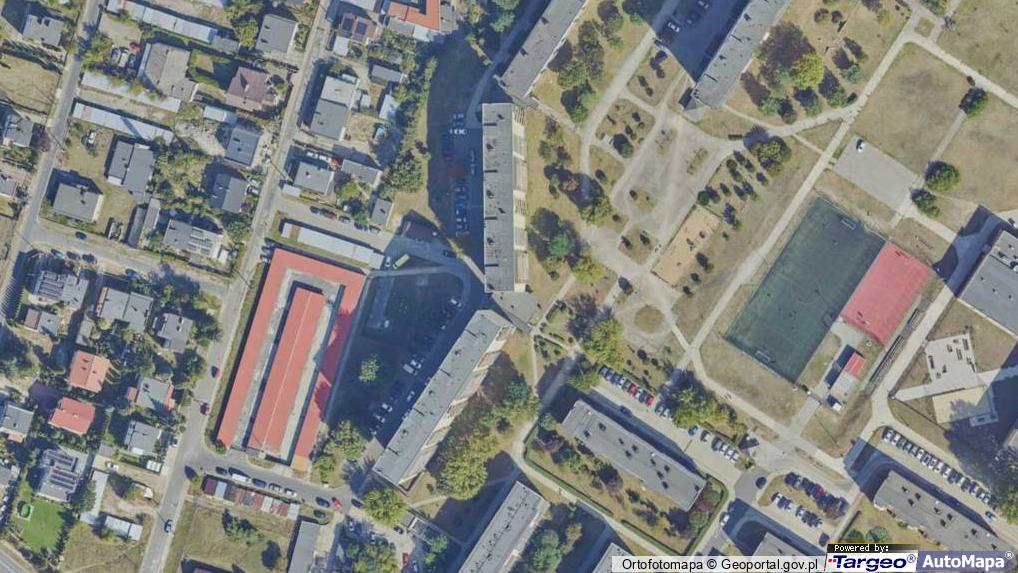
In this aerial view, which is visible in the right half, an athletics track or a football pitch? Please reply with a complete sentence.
The one visible in the right half is a football pitch.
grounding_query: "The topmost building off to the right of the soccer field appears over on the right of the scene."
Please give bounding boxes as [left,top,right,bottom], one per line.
[957,231,1018,336]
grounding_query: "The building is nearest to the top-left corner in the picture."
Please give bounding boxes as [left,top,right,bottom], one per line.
[22,15,68,46]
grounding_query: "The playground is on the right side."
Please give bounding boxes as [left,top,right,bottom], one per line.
[651,205,721,287]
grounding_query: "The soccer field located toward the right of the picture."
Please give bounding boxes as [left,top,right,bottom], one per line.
[725,195,890,385]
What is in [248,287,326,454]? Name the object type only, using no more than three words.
building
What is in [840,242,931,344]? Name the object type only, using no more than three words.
sports court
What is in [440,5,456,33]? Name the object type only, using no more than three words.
shed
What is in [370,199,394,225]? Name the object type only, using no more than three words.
house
